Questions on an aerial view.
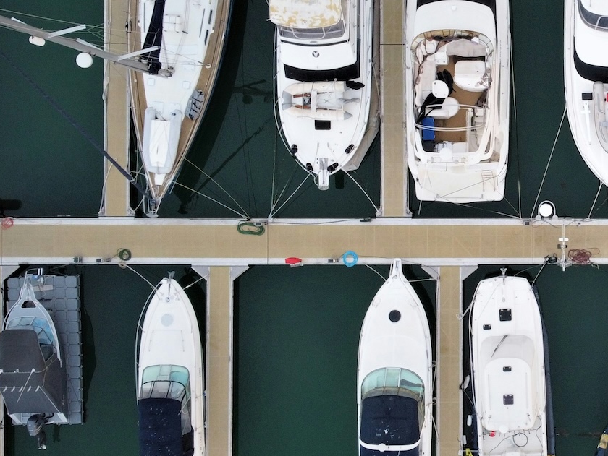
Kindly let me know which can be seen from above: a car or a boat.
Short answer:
boat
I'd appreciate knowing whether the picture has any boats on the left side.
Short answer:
Yes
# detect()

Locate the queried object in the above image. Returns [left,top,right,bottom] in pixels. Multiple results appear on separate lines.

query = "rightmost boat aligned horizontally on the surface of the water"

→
[278,80,368,120]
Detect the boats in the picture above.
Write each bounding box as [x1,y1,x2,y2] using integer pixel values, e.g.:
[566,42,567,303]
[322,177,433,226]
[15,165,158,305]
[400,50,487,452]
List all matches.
[135,268,206,456]
[278,80,368,120]
[357,259,432,456]
[0,0,234,218]
[564,0,608,186]
[469,266,547,456]
[0,269,79,450]
[141,111,185,176]
[403,0,510,214]
[266,0,374,192]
